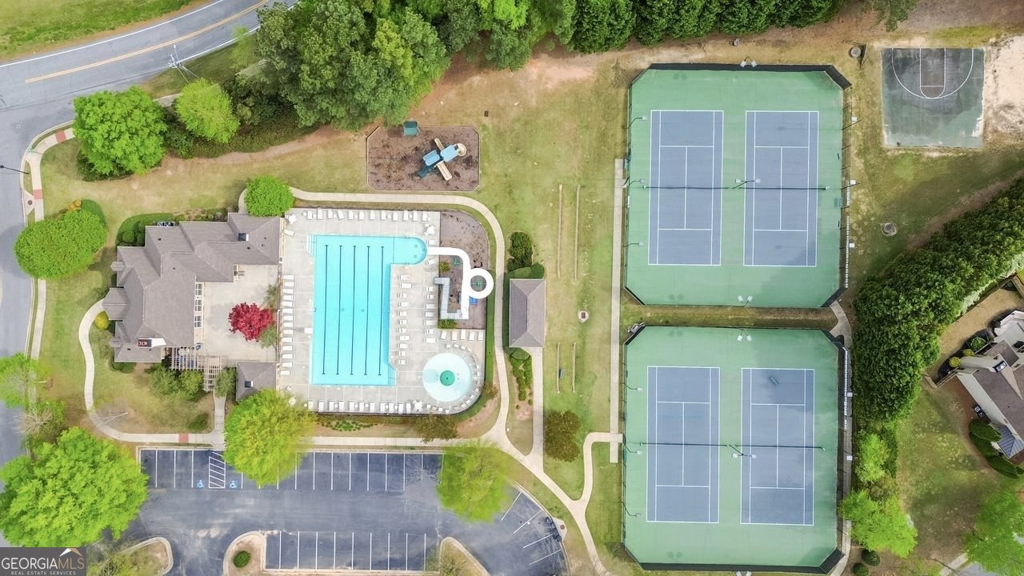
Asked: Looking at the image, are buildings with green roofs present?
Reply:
No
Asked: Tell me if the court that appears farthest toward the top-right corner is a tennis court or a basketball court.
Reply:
basketball court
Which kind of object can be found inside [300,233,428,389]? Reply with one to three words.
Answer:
swimming pool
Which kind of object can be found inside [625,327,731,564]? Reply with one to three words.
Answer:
tennis court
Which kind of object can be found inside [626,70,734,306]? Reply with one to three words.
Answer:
tennis court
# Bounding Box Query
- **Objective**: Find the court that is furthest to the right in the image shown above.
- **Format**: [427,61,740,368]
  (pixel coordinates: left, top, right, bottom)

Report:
[882,48,985,148]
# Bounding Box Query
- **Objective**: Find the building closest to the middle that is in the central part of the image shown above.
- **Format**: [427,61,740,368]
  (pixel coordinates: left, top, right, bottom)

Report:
[508,279,546,348]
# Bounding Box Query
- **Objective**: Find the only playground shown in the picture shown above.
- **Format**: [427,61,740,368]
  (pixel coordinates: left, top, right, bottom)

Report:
[417,137,467,182]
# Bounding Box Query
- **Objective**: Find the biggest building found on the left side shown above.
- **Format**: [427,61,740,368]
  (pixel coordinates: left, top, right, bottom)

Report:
[102,212,286,362]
